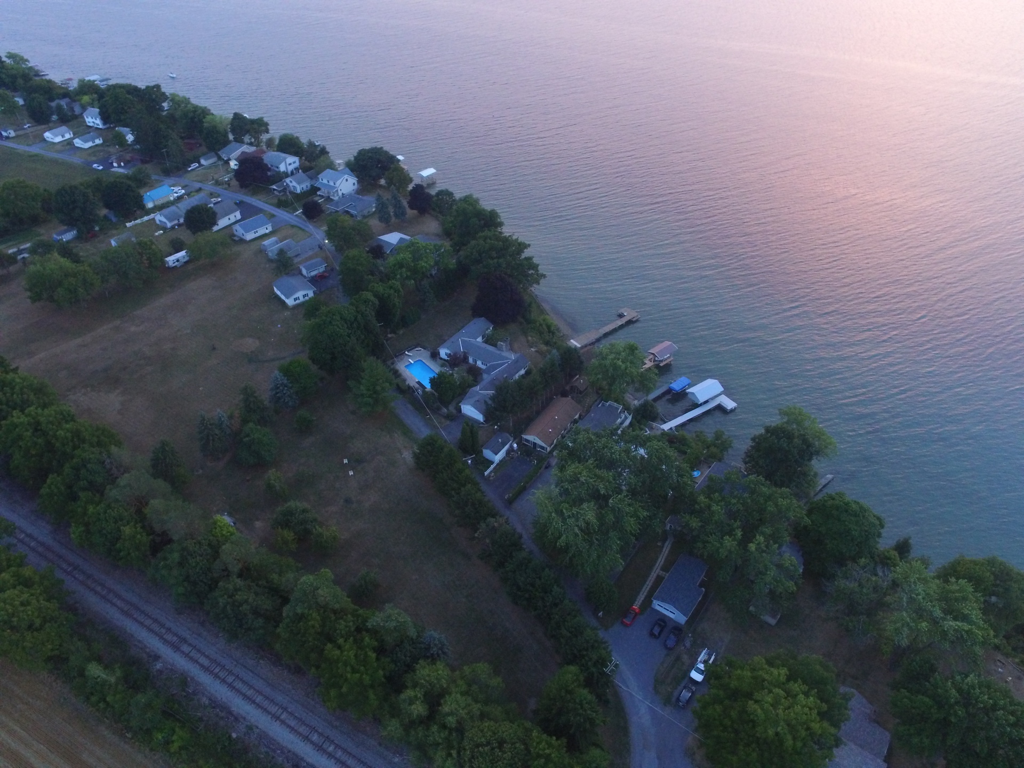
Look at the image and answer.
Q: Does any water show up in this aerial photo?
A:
Yes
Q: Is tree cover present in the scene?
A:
Yes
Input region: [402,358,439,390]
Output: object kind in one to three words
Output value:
swimming pool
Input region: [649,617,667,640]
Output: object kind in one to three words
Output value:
car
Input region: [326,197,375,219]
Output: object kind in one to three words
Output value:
house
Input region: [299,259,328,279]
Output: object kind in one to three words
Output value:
building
